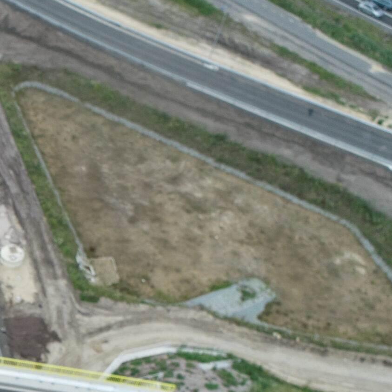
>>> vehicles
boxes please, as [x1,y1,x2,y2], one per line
[371,0,392,10]
[356,0,385,17]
